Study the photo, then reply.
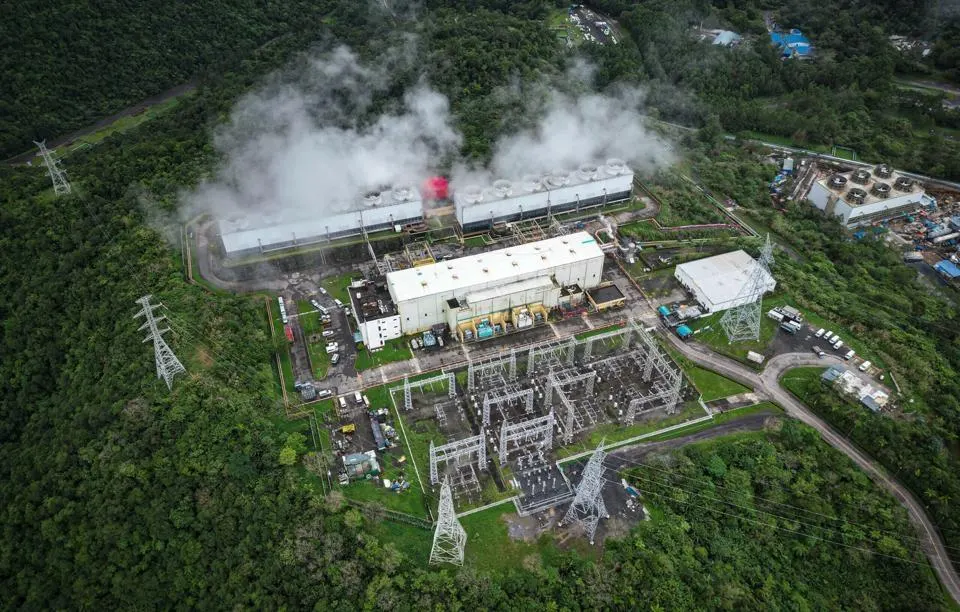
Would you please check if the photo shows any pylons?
Yes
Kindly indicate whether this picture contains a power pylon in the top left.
Yes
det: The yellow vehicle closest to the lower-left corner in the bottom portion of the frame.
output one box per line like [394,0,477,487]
[327,422,354,435]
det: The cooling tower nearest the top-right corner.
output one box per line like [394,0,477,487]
[802,166,926,232]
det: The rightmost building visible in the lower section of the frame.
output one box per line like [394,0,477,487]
[817,360,891,411]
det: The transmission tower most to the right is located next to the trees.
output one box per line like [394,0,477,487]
[716,232,772,344]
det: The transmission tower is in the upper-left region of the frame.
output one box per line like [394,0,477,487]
[38,142,71,190]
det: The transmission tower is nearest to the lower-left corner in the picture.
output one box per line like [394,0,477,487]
[135,294,186,379]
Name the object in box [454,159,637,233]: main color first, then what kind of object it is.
white cooling tower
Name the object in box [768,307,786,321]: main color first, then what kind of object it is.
white vehicle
